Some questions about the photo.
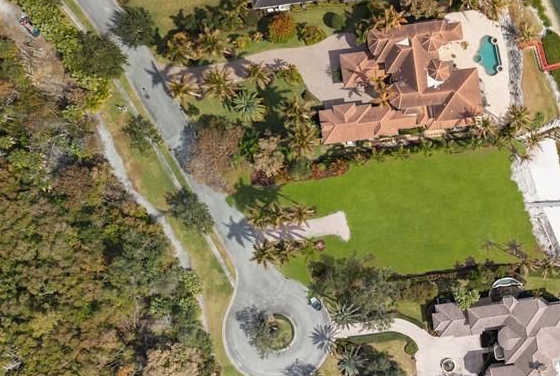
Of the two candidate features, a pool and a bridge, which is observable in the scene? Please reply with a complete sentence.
Looking from above, you can make out a pool.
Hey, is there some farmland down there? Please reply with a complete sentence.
No, there is no farmland in the image.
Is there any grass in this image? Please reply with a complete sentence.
Yes, grass shows up in the scene.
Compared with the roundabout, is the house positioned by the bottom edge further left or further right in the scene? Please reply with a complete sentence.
The roundabout has the house positioned by the bottom edge on its right side.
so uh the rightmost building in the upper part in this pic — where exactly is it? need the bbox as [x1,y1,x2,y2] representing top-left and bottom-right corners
[319,20,484,144]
